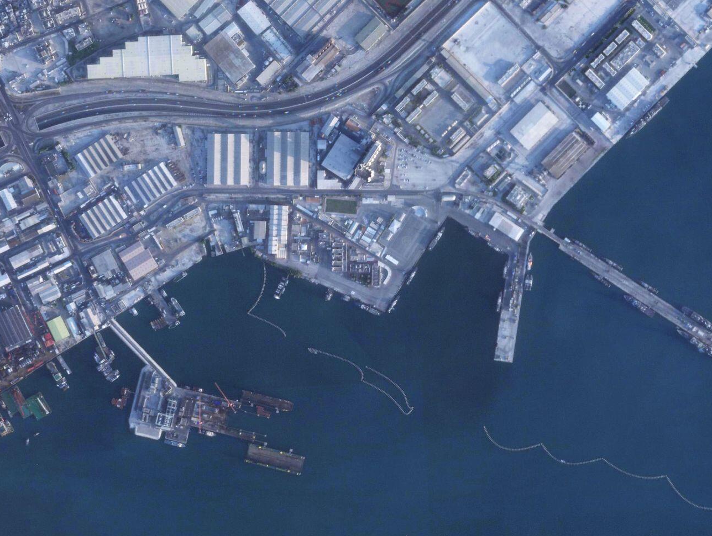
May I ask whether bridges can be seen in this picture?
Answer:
Yes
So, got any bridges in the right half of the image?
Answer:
No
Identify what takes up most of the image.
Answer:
water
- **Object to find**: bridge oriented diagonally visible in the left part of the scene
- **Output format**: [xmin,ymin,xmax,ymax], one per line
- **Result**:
[107,318,179,389]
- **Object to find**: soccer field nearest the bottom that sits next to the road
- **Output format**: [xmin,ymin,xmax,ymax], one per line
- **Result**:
[324,197,359,216]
